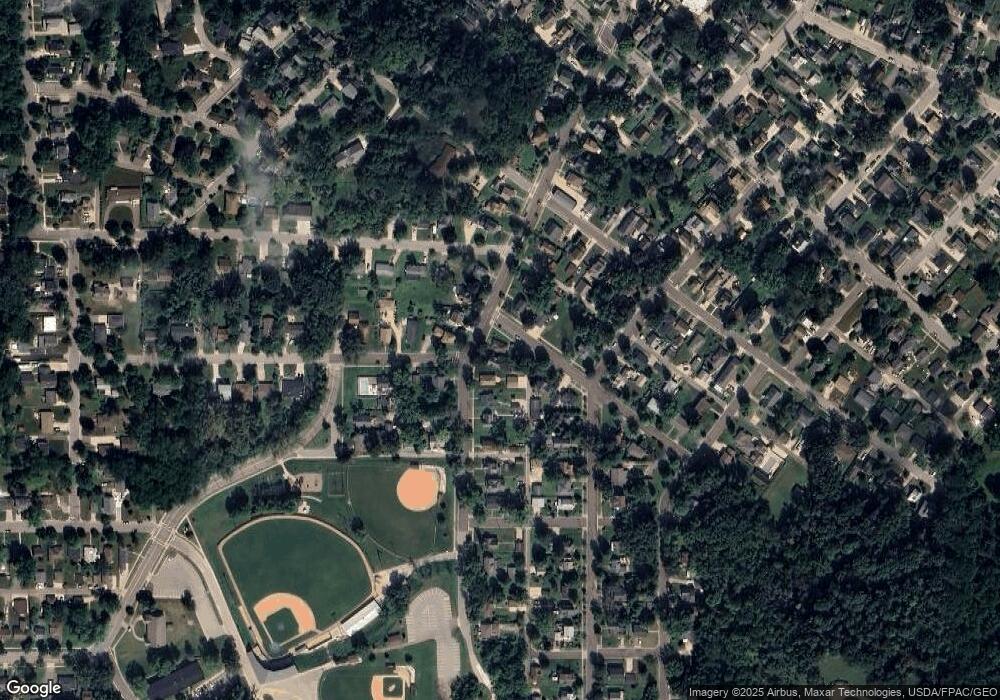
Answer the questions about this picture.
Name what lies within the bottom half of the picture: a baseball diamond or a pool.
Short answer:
baseball diamond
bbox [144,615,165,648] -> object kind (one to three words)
building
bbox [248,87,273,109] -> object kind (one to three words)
house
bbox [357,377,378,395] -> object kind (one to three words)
building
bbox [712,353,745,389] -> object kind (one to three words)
house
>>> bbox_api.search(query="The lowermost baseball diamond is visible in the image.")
[371,666,416,700]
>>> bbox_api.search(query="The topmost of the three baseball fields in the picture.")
[348,464,446,560]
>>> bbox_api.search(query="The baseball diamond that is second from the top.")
[218,515,375,657]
